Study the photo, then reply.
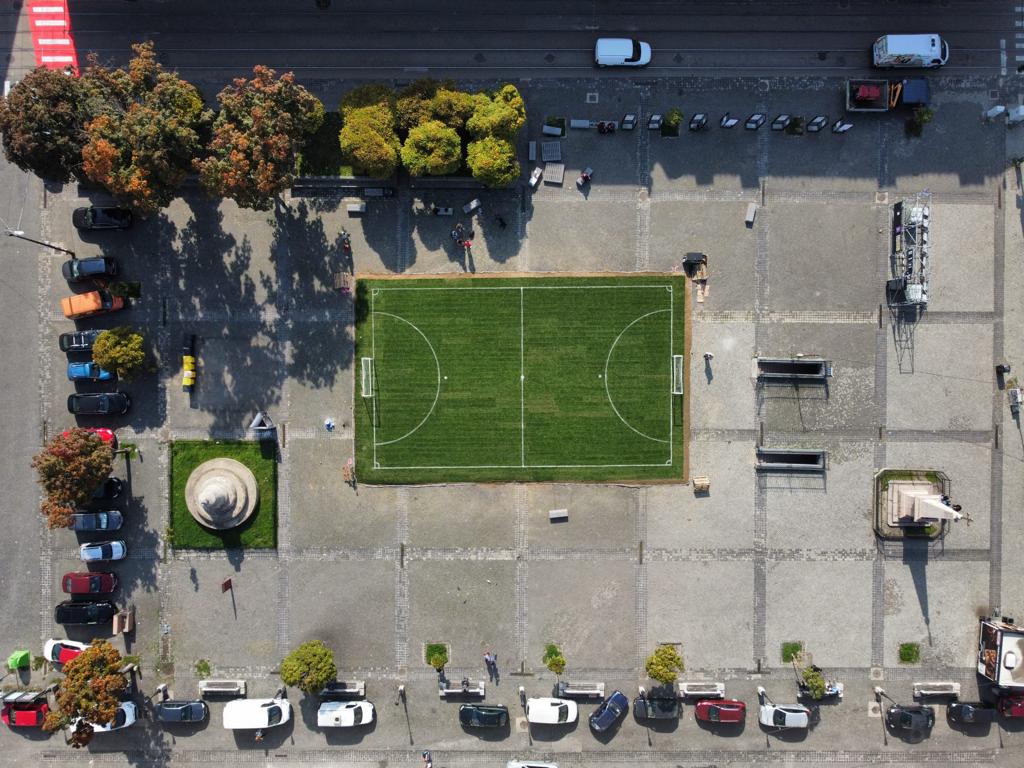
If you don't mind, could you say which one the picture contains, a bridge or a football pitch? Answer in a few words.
football pitch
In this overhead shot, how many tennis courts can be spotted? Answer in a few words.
0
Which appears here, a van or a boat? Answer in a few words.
van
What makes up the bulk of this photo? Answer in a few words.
paved ground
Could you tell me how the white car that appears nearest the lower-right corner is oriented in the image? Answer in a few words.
from left to right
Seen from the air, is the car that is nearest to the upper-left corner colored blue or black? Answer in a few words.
black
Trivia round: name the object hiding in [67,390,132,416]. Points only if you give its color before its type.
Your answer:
black car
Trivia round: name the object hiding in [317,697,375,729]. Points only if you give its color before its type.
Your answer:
white van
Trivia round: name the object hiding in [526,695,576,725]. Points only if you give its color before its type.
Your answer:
white car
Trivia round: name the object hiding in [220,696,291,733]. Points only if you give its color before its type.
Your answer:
white van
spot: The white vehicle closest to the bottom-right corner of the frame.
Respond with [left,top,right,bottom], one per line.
[756,700,811,728]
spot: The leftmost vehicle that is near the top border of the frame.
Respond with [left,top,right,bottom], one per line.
[594,38,649,69]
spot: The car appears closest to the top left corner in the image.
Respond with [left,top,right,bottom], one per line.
[75,204,133,231]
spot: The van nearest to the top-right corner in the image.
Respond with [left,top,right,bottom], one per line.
[869,32,943,69]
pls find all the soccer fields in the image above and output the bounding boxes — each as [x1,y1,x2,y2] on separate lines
[355,272,691,486]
